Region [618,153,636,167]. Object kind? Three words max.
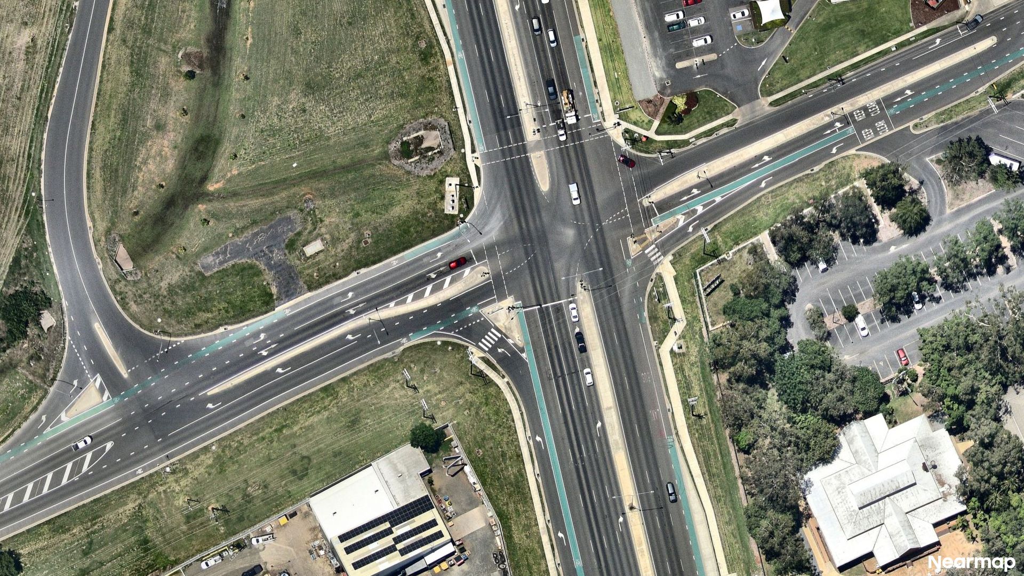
car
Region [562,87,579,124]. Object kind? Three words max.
vehicle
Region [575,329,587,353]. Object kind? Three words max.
vehicle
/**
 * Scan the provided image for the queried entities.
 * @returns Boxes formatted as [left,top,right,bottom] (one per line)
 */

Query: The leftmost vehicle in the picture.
[70,435,92,450]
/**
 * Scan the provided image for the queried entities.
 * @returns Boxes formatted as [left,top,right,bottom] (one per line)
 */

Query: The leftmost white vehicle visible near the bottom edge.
[200,553,226,568]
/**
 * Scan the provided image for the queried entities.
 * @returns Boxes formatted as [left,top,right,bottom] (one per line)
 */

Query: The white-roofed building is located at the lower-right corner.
[802,414,967,568]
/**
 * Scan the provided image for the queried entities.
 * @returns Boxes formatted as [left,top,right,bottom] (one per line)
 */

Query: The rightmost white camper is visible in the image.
[988,152,1016,172]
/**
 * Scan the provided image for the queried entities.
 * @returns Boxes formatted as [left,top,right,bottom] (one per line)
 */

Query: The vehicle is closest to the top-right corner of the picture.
[964,14,981,33]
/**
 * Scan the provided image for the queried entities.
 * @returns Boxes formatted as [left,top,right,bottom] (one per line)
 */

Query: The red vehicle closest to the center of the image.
[448,256,467,269]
